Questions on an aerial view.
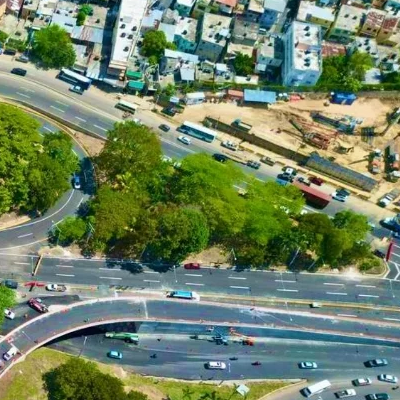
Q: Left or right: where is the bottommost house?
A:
right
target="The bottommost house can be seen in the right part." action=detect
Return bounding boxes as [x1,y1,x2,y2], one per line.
[301,152,379,198]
